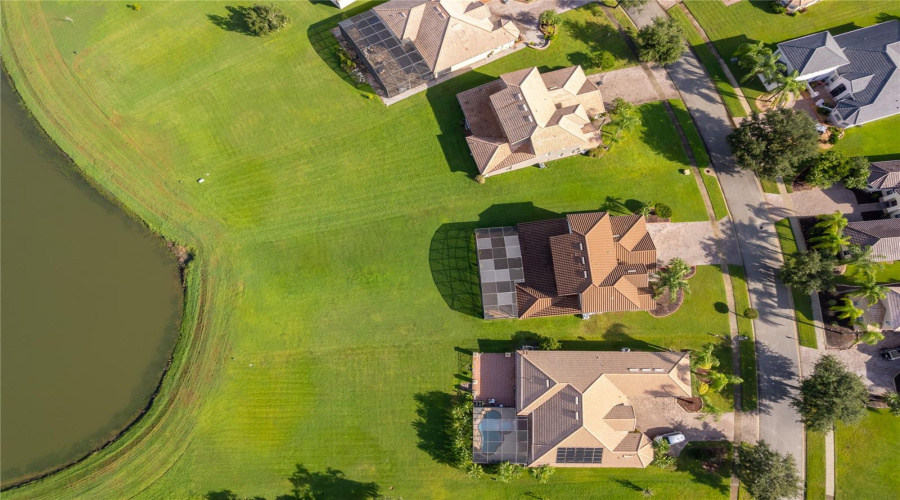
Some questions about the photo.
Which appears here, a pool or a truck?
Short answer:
pool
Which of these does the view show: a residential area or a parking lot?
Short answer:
residential area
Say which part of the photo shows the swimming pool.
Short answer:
bottom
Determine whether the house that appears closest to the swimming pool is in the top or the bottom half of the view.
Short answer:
bottom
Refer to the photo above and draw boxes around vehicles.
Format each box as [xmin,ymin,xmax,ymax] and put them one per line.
[879,346,900,360]
[653,431,686,446]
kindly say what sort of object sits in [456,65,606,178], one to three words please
house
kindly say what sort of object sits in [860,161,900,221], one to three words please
house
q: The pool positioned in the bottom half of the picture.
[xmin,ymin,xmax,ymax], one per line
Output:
[477,409,516,452]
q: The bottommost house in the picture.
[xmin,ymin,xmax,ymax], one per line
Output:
[516,350,693,467]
